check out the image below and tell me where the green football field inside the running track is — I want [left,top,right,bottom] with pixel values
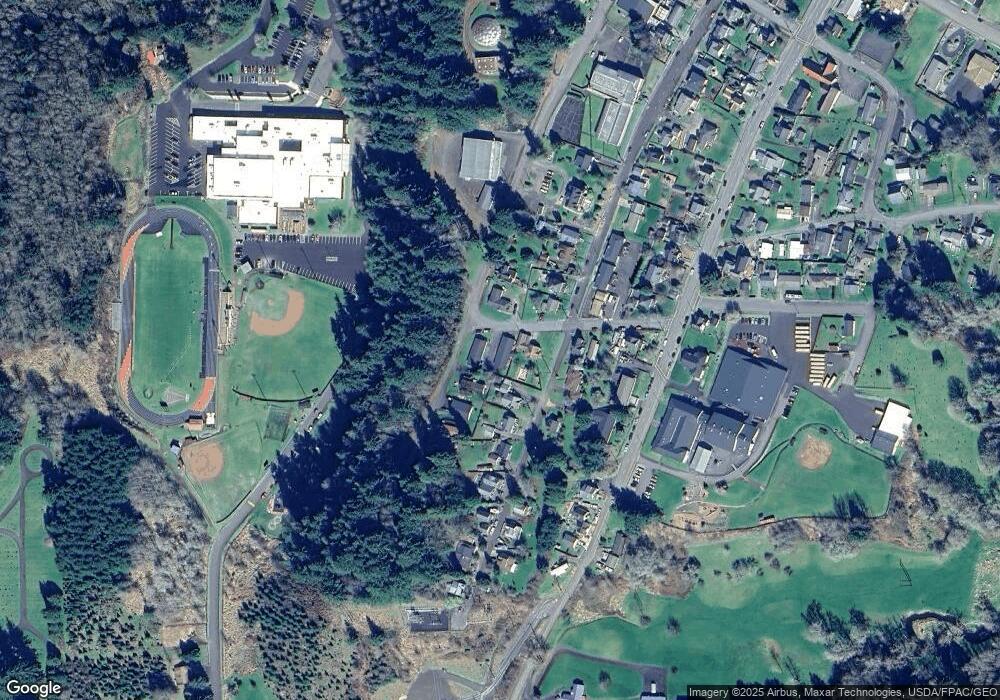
[132,219,205,415]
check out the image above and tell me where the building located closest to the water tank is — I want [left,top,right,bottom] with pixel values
[475,57,501,76]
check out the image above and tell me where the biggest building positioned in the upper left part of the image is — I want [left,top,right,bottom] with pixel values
[191,115,354,229]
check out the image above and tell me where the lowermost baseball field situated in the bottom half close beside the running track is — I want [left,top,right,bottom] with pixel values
[183,412,262,523]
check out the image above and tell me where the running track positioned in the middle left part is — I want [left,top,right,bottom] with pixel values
[116,204,223,428]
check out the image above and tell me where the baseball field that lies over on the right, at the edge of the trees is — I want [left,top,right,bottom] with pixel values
[726,424,890,531]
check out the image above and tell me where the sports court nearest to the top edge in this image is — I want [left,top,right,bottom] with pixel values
[550,95,585,146]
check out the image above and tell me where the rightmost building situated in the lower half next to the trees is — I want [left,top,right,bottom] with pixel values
[871,400,914,456]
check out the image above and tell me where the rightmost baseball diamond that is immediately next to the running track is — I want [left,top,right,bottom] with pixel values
[231,266,346,401]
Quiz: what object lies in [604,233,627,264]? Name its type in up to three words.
building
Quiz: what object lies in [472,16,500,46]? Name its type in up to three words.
water tank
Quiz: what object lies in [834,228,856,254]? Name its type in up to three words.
house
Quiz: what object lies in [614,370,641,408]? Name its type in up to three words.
house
